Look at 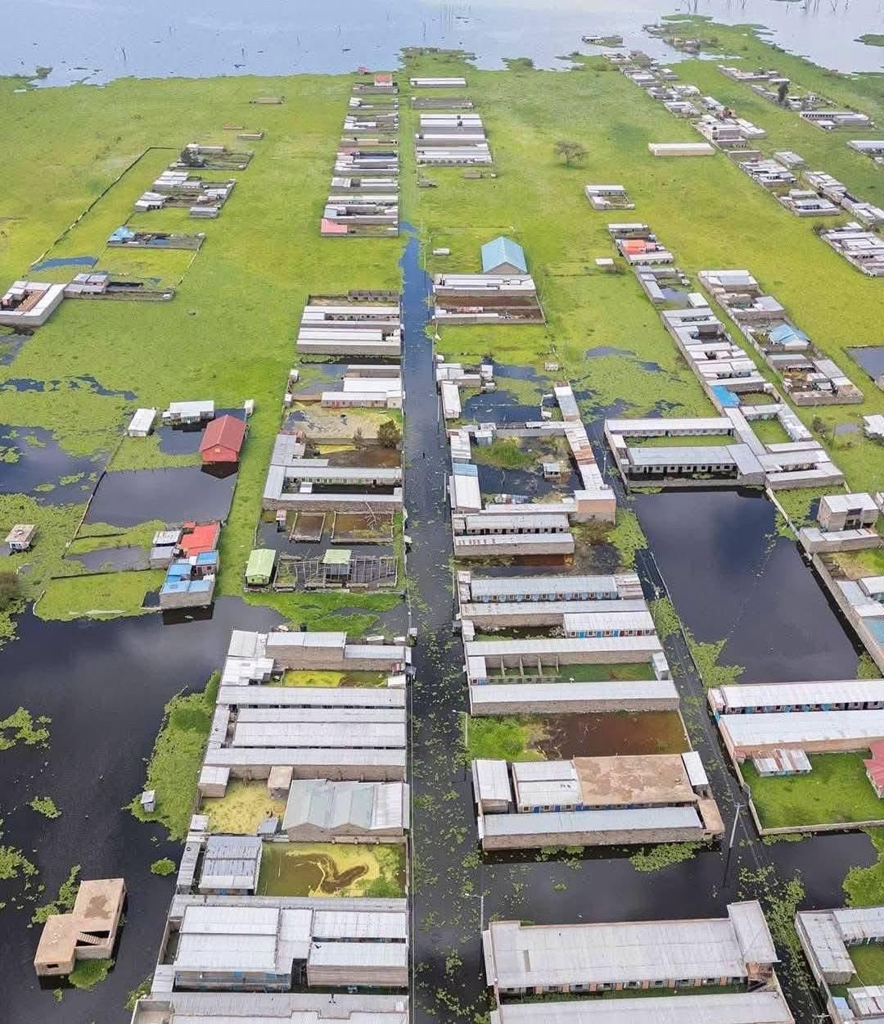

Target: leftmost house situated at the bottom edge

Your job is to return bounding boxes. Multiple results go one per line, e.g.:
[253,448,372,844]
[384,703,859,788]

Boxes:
[34,879,127,980]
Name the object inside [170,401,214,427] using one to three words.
house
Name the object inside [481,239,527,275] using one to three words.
building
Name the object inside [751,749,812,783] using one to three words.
shed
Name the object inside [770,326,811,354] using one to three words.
house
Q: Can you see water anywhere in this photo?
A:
Yes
